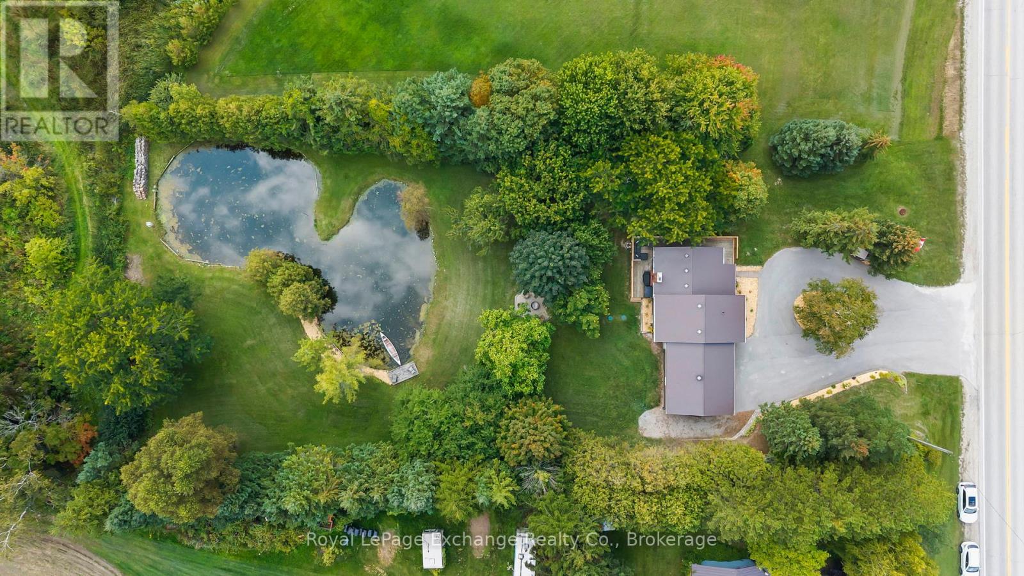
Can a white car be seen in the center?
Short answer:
No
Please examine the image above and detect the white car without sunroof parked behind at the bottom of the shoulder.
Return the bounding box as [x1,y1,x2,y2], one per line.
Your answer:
[959,543,982,576]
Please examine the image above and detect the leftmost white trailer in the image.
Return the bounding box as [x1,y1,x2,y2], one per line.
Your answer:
[423,514,446,569]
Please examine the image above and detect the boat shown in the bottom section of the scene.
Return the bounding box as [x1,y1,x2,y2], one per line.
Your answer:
[380,331,401,366]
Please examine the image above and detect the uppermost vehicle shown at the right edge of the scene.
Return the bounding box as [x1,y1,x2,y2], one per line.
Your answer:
[957,484,980,523]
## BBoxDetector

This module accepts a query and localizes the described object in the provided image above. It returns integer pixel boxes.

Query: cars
[959,543,982,576]
[957,484,980,523]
